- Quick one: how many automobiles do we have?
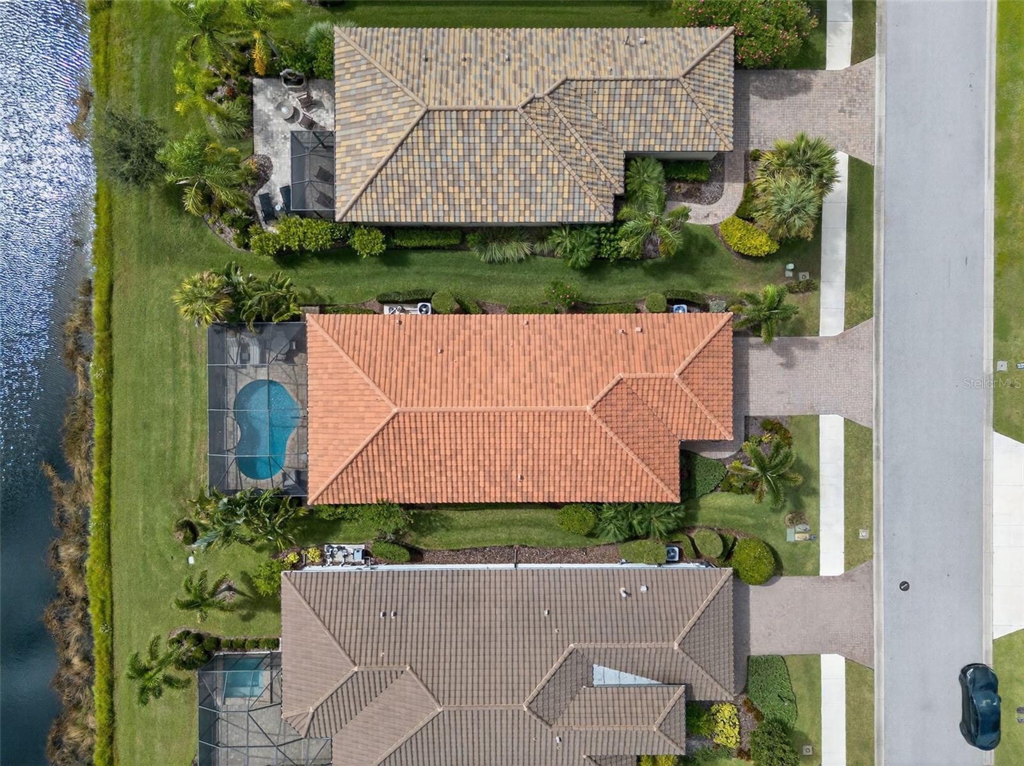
1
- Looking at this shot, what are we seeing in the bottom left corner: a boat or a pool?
pool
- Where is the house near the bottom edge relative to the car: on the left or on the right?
left of it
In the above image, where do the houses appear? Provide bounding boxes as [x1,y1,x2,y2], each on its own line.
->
[279,551,737,766]
[305,311,735,506]
[332,23,737,225]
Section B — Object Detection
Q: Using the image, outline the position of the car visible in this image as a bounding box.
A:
[955,664,1004,751]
